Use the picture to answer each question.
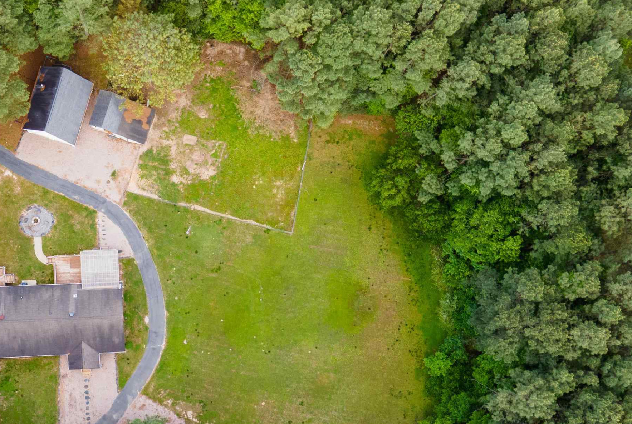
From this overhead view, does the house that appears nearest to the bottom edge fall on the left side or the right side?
left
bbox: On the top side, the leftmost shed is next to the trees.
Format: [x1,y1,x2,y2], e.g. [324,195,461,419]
[20,66,94,149]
